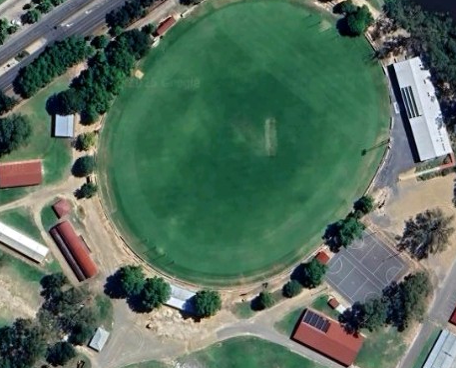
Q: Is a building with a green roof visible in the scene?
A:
No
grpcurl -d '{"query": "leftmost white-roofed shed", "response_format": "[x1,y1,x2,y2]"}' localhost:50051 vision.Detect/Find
[0,224,47,264]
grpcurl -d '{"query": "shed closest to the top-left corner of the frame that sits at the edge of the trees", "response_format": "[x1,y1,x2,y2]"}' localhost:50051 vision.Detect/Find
[54,113,73,137]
